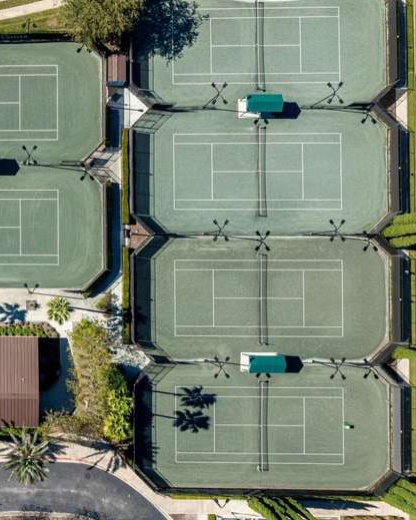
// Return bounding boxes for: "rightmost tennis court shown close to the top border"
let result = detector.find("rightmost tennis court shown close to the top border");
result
[134,0,388,108]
